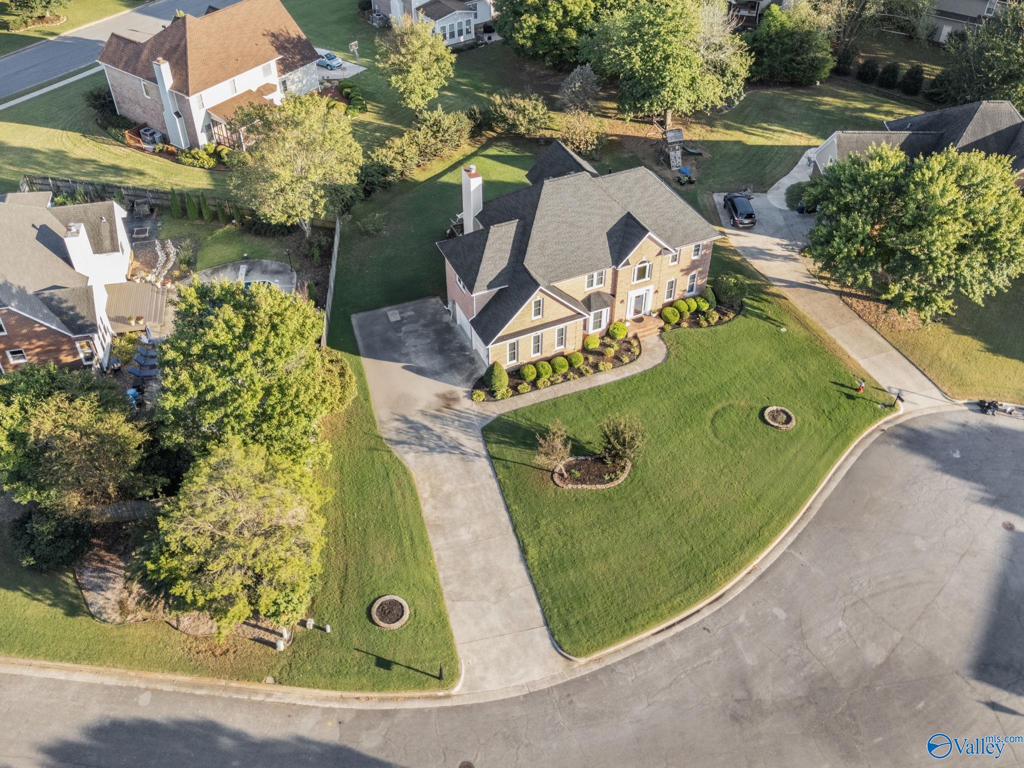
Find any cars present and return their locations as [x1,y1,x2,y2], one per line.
[315,46,345,70]
[720,190,757,227]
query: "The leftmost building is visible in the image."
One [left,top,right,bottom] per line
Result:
[0,193,133,375]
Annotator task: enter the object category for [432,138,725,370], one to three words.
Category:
house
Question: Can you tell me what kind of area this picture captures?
residential area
